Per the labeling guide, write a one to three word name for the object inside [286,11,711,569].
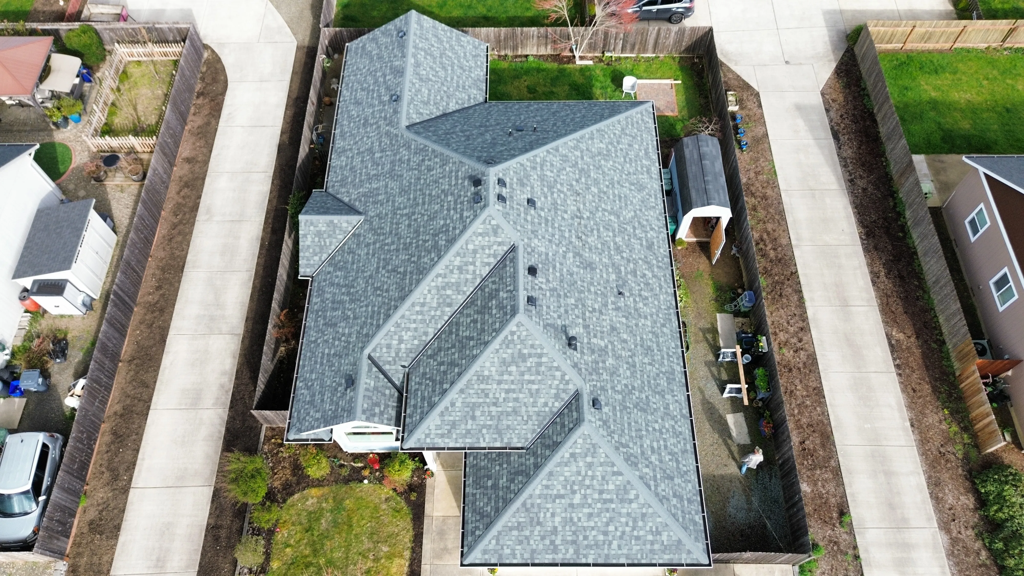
house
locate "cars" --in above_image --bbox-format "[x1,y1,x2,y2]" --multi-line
[605,0,694,23]
[0,425,69,545]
